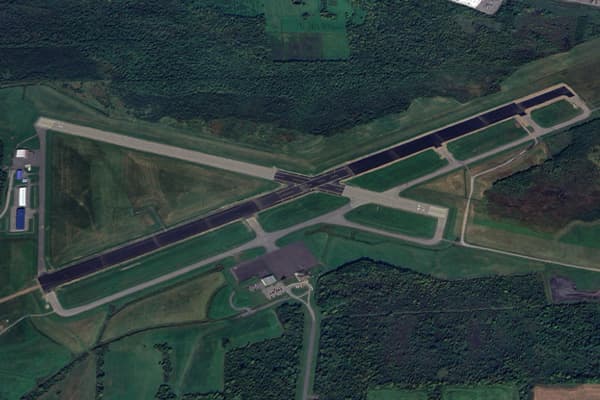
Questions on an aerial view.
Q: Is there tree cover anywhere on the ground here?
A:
Yes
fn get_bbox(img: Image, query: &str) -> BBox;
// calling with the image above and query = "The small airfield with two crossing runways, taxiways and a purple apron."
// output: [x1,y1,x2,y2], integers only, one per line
[10,84,591,317]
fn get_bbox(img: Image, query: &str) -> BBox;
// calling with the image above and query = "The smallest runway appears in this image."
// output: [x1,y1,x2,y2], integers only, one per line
[35,117,448,218]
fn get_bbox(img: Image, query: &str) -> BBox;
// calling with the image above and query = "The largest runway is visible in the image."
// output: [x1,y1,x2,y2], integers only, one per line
[37,84,591,294]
